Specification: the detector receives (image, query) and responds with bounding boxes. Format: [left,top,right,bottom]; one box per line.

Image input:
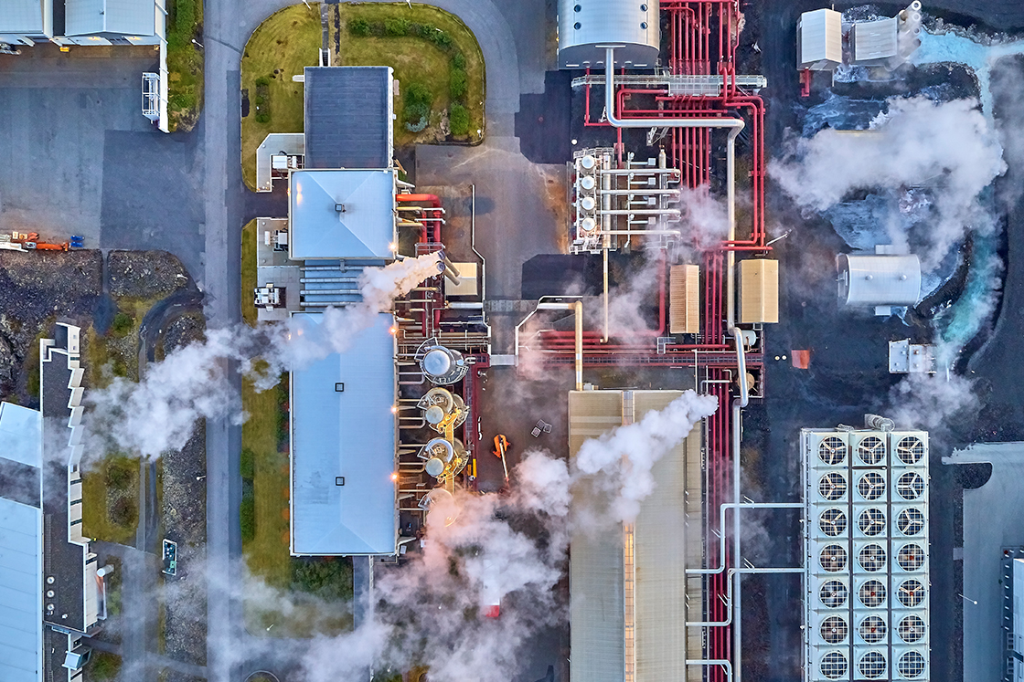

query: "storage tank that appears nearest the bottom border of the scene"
[416,481,470,532]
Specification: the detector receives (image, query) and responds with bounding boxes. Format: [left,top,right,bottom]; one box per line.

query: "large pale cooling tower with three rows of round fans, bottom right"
[801,428,933,682]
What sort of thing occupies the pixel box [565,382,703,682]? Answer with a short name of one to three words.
building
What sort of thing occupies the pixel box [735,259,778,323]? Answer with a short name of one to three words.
shed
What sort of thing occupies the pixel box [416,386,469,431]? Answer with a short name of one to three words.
storage tank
